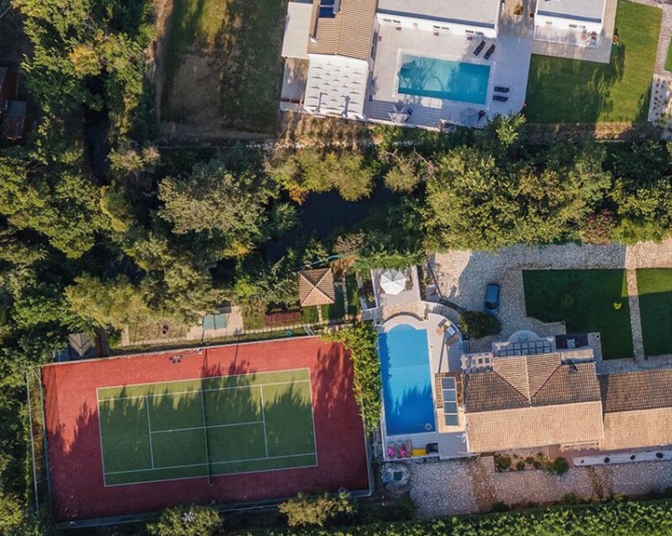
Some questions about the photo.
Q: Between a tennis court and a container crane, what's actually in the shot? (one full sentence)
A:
Of the two, only a tennis court appears.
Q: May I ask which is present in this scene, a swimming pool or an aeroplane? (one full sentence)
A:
The image shows a swimming pool.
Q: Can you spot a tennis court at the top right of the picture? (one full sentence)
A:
No, no tennis court is visible at the top right of the picture.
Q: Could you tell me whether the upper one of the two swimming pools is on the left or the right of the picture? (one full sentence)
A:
You can find the upper one of the two swimming pools on the right side of the picture.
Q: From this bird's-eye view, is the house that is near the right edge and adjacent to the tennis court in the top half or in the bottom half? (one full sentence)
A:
You can find the house that is near the right edge and adjacent to the tennis court in the bottom half.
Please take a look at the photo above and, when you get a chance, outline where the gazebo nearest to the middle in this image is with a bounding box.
[298,269,338,307]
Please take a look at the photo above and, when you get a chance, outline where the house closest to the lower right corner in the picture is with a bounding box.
[435,330,672,467]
